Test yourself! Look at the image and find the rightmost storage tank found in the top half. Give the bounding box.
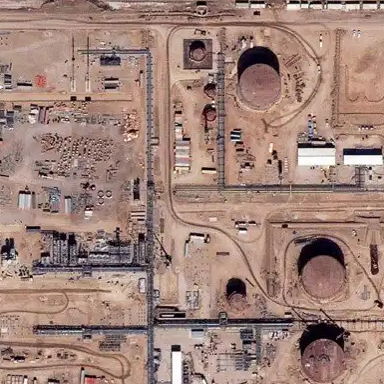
[236,64,283,111]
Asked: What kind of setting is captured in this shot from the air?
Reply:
industrial area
